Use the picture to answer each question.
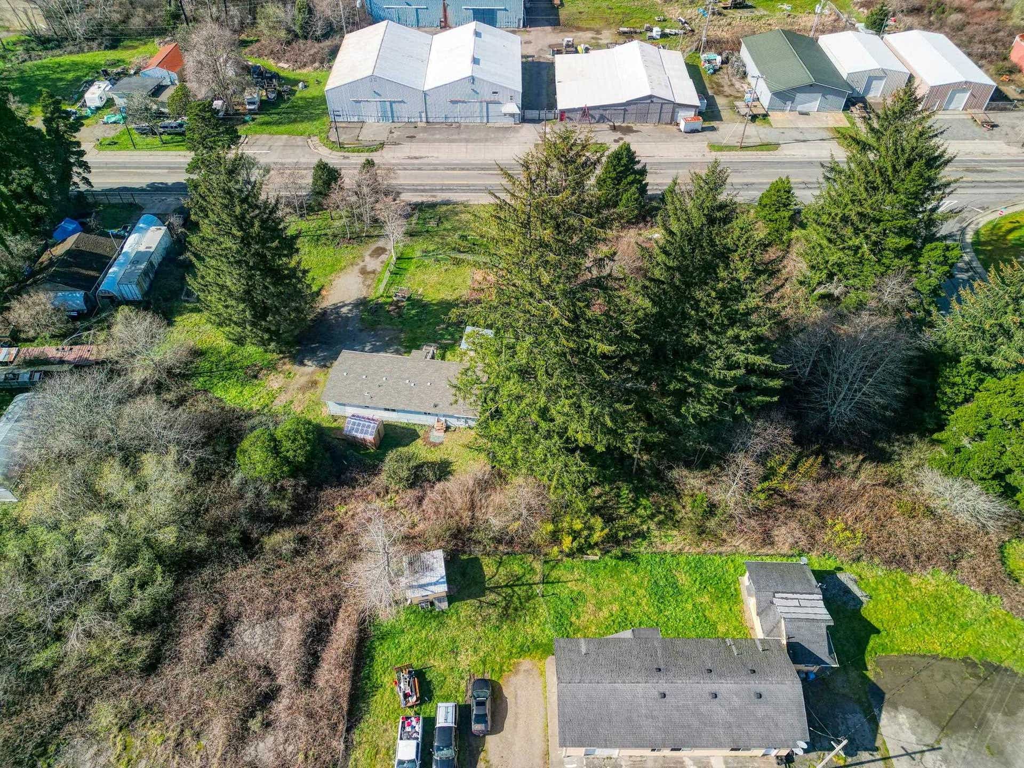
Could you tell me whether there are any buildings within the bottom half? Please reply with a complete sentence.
Yes, there is a building within the bottom half.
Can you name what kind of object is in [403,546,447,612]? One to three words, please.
shed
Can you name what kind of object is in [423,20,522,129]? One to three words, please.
building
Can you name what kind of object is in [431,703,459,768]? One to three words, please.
truck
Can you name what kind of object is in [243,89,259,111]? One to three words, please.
vehicle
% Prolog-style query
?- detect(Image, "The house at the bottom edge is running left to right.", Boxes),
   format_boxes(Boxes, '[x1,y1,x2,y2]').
[555,625,813,755]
